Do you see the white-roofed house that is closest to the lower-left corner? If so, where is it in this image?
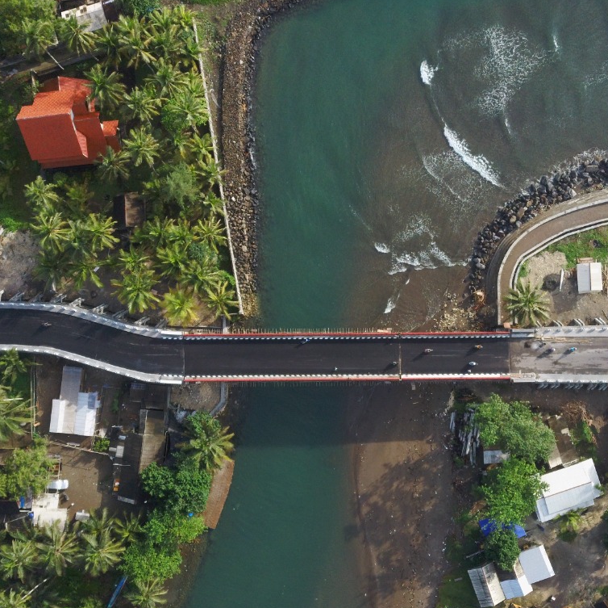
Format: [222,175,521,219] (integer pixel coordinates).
[33,492,70,531]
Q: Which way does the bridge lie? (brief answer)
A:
from left to right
